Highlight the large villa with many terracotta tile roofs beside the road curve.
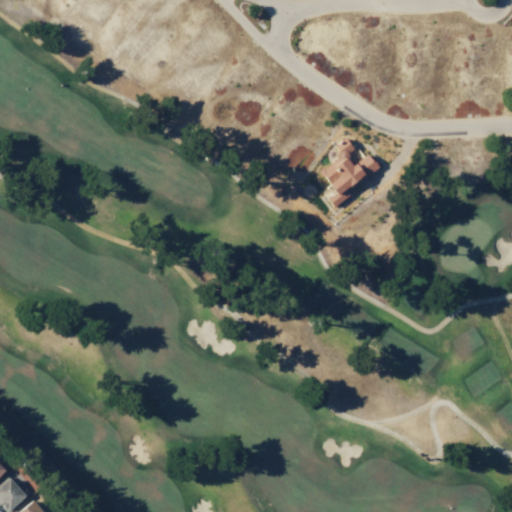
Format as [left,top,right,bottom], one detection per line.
[324,138,381,206]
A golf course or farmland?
golf course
